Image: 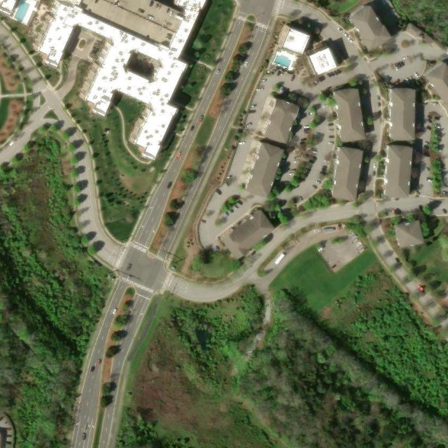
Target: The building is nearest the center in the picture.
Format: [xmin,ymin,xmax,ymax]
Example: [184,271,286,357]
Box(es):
[220,210,274,260]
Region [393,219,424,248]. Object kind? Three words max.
building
